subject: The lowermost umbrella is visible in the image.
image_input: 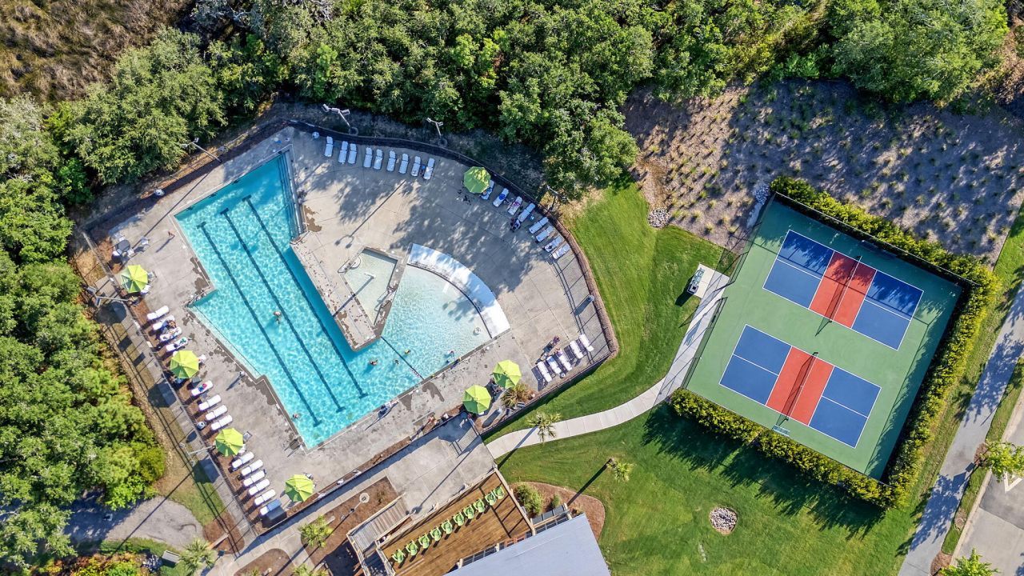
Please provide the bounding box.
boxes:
[287,473,315,502]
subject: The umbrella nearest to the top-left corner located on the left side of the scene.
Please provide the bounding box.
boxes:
[121,264,151,293]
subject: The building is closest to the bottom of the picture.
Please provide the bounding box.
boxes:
[440,502,610,576]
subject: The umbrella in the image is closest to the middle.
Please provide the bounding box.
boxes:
[493,360,521,388]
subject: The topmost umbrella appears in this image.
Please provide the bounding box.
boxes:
[463,166,492,195]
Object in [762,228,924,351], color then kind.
blue sports court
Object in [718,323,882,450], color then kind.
blue sports court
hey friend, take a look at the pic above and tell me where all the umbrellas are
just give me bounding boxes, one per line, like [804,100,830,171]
[216,426,246,455]
[121,264,151,293]
[171,348,200,378]
[493,360,521,388]
[463,166,492,195]
[462,384,492,413]
[287,473,315,502]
